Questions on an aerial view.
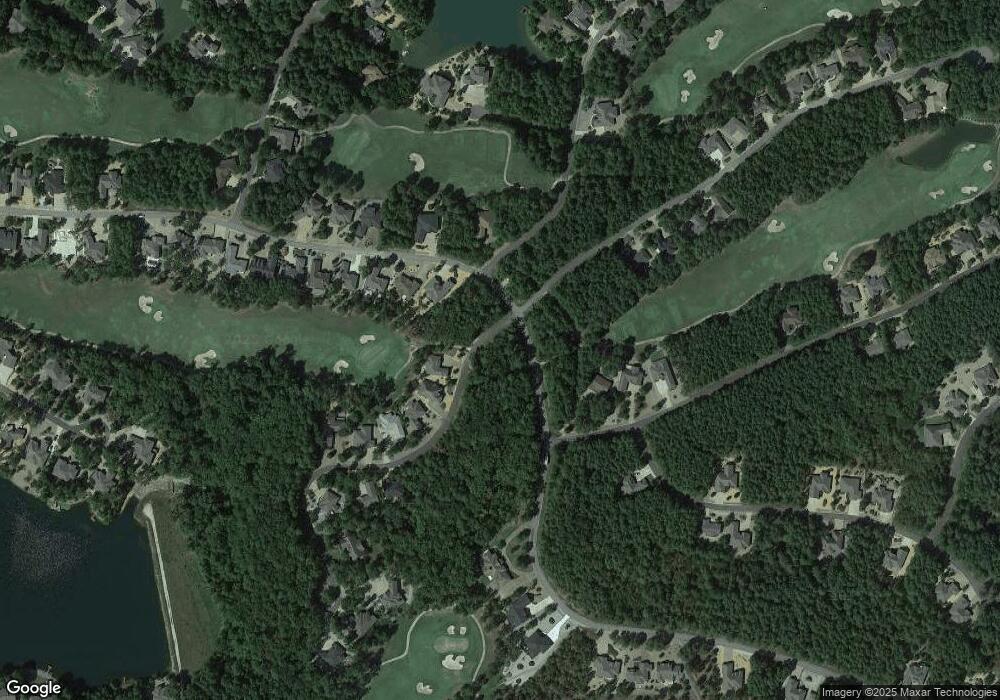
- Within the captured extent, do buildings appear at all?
Yes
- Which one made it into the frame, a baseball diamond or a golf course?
golf course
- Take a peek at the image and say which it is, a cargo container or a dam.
dam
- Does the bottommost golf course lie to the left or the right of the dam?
to the right of it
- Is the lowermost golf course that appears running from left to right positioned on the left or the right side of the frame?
left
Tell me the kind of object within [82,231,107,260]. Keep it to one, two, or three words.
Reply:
house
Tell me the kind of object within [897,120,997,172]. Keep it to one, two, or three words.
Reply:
pond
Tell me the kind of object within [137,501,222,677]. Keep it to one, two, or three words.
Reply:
dam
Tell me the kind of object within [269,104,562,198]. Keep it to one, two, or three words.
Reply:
golf course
